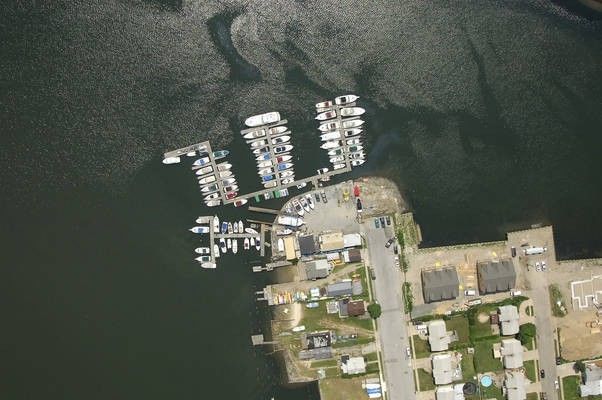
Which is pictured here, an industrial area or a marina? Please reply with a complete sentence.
The area seen from above is a marina.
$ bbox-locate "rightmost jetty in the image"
[317,102,365,172]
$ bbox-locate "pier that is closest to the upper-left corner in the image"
[163,141,240,205]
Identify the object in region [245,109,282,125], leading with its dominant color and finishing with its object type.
white boat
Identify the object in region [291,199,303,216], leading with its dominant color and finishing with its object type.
white boat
